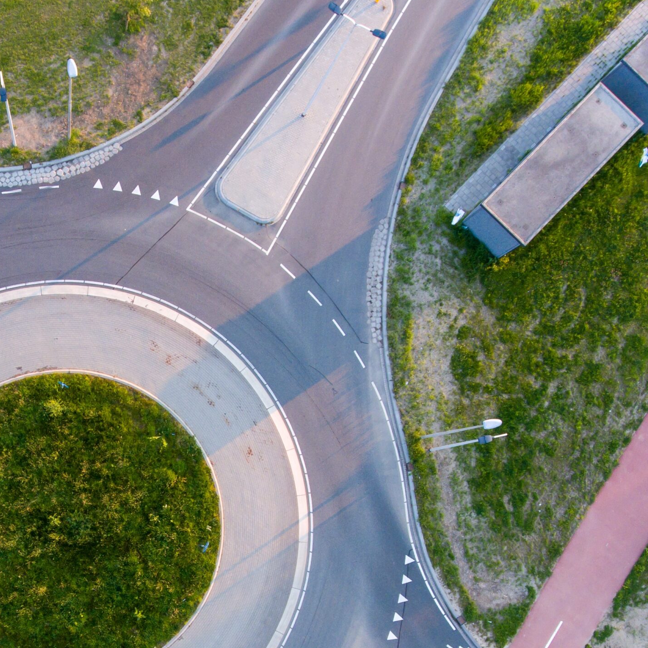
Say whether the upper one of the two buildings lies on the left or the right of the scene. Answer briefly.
right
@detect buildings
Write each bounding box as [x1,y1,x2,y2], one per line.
[464,82,643,258]
[604,33,648,115]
